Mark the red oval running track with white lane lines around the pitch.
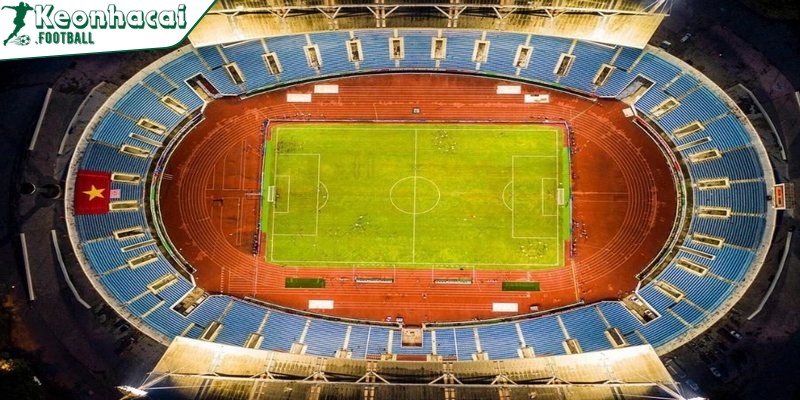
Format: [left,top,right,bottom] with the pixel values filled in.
[159,80,679,321]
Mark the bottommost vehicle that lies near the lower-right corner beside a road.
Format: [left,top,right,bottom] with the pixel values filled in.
[683,373,709,400]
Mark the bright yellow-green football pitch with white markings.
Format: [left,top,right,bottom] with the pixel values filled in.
[261,123,571,270]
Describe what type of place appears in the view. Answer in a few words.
sports ground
